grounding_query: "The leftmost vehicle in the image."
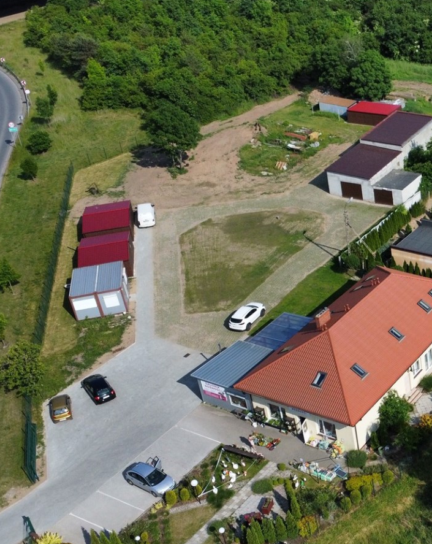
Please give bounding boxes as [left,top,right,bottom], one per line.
[45,390,76,426]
